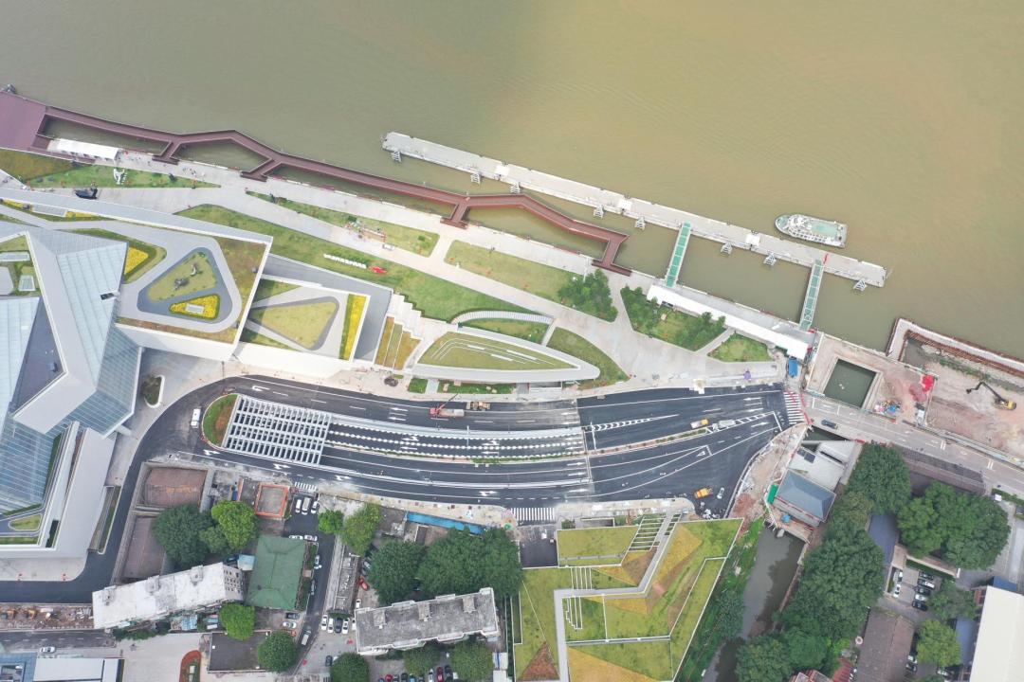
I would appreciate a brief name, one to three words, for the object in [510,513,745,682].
building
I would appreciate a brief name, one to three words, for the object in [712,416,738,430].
vehicle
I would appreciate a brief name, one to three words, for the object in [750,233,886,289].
pier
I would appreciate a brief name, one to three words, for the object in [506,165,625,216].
pier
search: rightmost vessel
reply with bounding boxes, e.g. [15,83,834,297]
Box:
[775,214,848,249]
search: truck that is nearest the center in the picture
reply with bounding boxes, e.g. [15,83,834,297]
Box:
[431,382,466,419]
